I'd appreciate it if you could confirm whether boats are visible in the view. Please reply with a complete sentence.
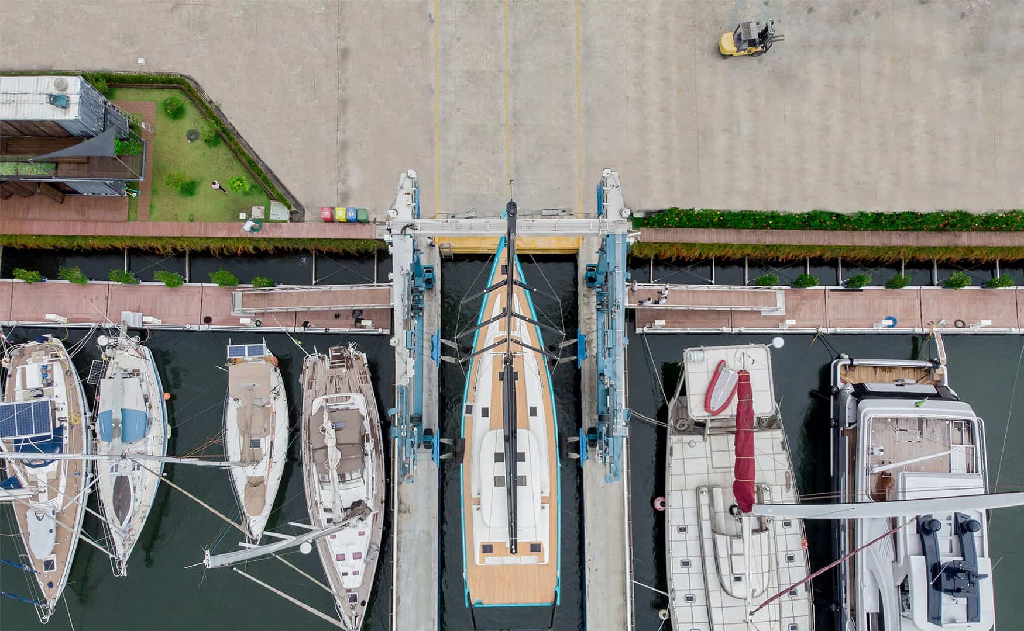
Yes, a boat can be made out from above.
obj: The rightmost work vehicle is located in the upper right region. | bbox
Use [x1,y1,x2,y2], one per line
[720,19,788,59]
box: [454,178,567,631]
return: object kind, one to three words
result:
boat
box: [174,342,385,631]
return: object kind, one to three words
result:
boat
